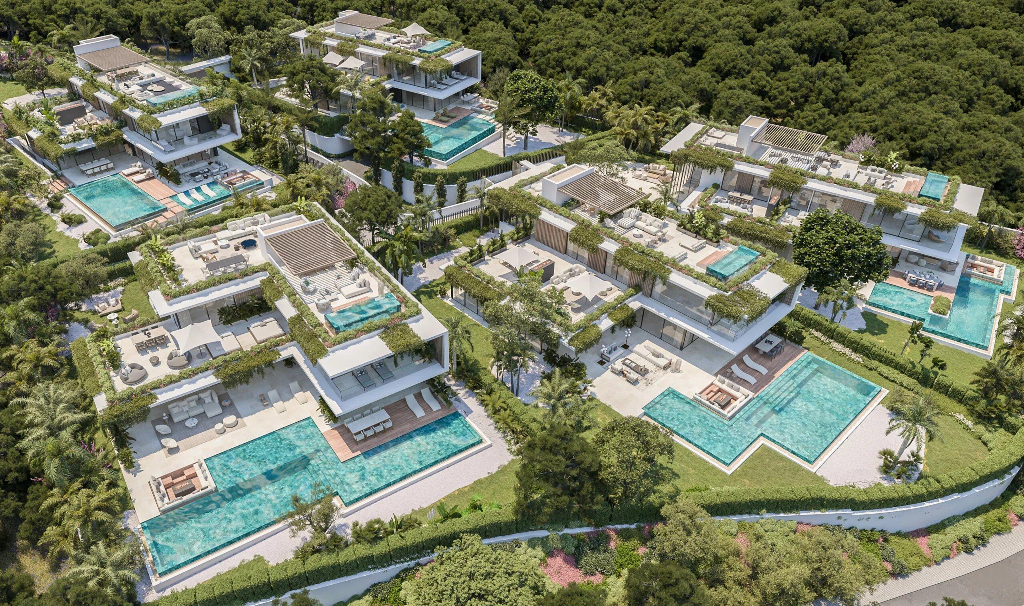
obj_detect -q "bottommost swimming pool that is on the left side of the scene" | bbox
[136,411,492,591]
